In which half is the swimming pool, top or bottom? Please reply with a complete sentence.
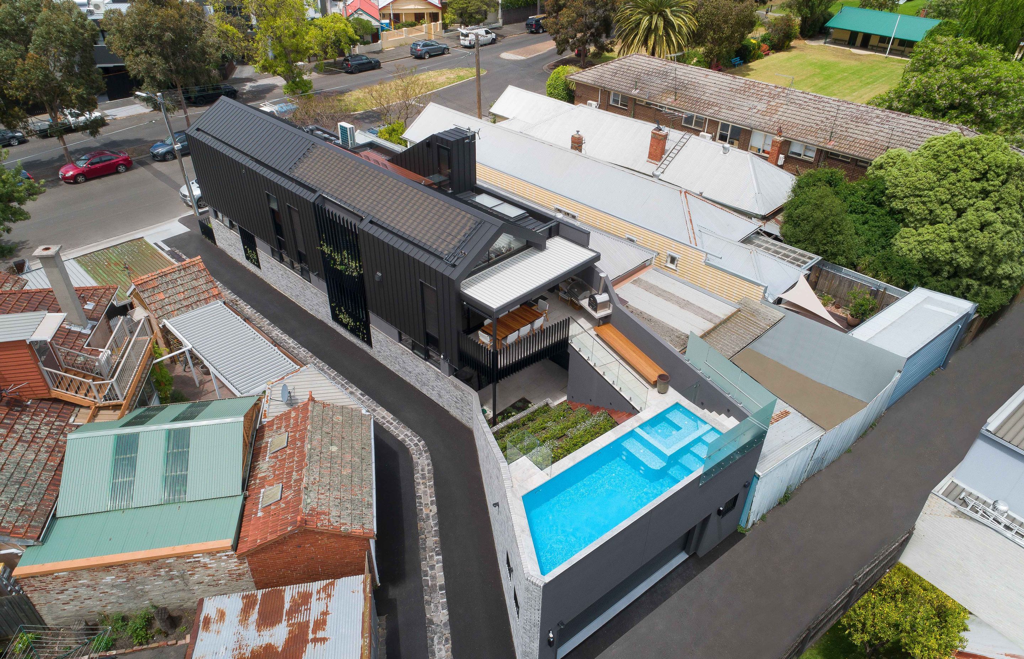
It is in the bottom half that the swimming pool appears.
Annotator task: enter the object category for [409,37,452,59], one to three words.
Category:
car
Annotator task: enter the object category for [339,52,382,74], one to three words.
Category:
car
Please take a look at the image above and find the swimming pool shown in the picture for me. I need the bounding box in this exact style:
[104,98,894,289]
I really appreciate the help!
[522,404,737,516]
